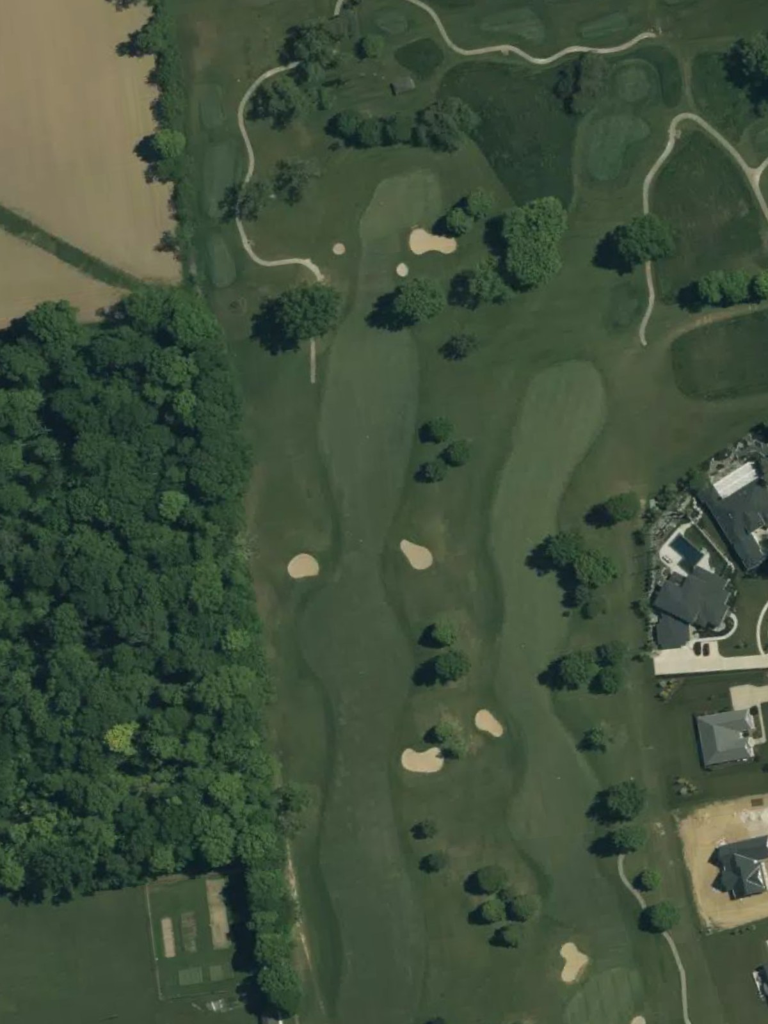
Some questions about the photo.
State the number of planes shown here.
0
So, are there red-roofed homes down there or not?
No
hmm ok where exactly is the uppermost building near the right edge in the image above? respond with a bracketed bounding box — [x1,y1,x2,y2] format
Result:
[704,462,768,571]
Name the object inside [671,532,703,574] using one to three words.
swimming pool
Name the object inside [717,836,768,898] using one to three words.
house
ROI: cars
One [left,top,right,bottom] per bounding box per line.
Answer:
[695,643,700,655]
[704,644,709,656]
